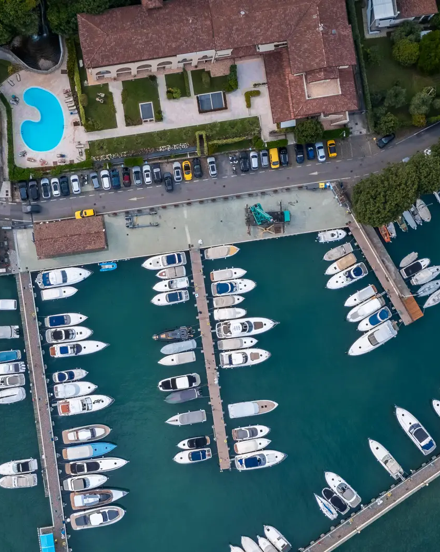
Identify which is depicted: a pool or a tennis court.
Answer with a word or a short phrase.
pool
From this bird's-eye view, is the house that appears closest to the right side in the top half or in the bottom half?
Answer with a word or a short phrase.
top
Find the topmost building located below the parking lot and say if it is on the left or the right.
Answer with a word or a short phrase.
left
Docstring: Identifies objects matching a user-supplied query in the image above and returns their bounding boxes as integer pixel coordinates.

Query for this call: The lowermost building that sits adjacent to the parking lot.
[33,215,107,259]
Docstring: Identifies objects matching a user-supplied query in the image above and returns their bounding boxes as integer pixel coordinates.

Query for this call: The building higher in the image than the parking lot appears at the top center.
[76,0,357,126]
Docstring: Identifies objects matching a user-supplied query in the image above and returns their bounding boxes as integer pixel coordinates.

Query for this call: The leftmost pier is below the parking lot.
[16,271,69,552]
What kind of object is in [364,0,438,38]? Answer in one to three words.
house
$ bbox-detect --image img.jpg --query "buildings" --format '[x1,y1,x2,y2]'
[364,0,438,38]
[76,0,357,126]
[33,215,107,259]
